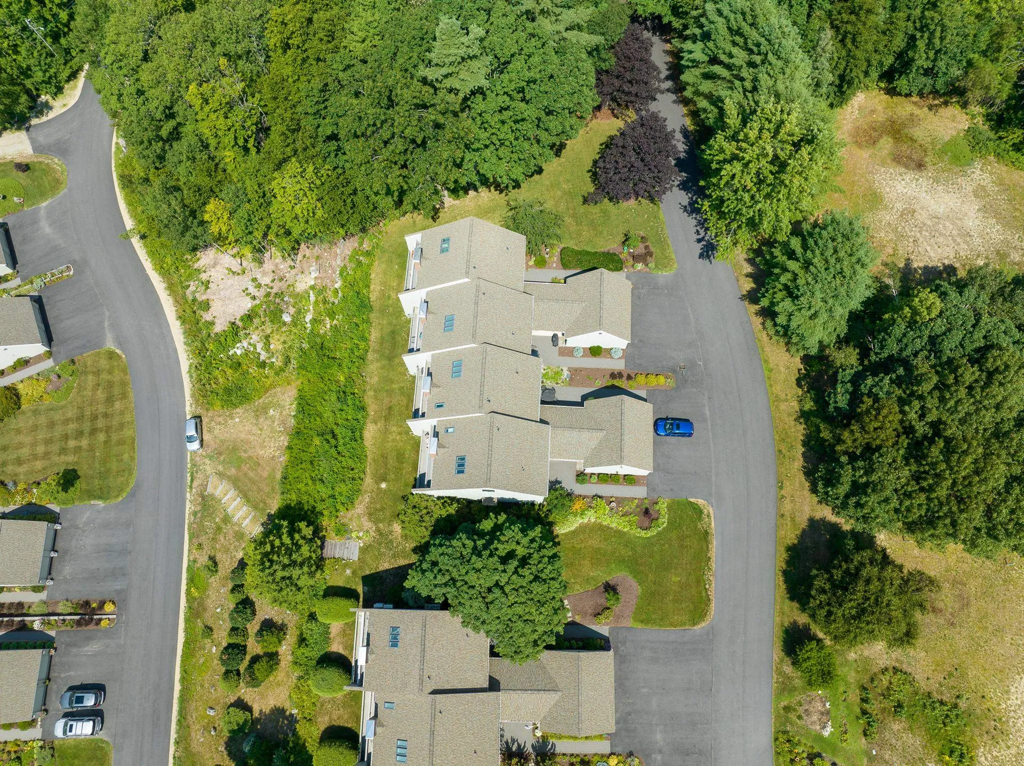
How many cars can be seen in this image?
4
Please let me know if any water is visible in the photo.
No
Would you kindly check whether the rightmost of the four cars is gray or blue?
blue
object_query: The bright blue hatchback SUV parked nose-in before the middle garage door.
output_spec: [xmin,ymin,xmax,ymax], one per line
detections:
[655,418,694,439]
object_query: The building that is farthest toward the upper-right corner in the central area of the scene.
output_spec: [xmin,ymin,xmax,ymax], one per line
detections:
[525,268,632,345]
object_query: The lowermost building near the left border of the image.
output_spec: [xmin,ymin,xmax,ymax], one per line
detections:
[0,650,52,724]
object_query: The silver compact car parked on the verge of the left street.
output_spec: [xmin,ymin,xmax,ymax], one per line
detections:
[183,417,205,452]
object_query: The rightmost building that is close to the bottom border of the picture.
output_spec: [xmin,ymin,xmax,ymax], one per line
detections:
[489,649,618,737]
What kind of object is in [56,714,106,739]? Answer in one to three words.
car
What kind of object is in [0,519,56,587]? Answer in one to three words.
building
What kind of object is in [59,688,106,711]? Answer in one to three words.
car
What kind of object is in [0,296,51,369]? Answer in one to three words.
building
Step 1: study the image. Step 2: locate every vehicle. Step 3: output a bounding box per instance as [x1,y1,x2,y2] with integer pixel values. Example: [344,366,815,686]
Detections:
[183,417,205,452]
[56,714,106,739]
[655,418,694,439]
[59,688,106,711]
